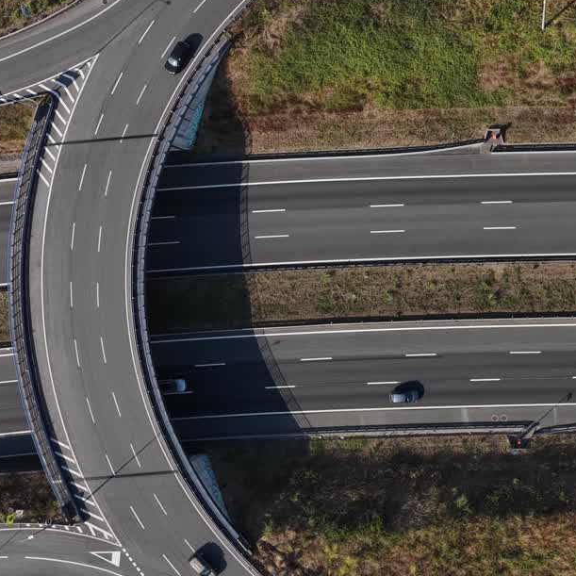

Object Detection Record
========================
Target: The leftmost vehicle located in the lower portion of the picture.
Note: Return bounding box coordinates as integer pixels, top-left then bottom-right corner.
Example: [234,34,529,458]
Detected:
[161,378,188,392]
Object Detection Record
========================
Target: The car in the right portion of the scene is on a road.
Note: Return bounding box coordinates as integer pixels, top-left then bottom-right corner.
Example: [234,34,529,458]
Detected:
[390,390,422,404]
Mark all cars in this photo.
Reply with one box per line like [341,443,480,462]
[188,554,217,576]
[390,390,422,404]
[161,378,188,392]
[166,40,192,72]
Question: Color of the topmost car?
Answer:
black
